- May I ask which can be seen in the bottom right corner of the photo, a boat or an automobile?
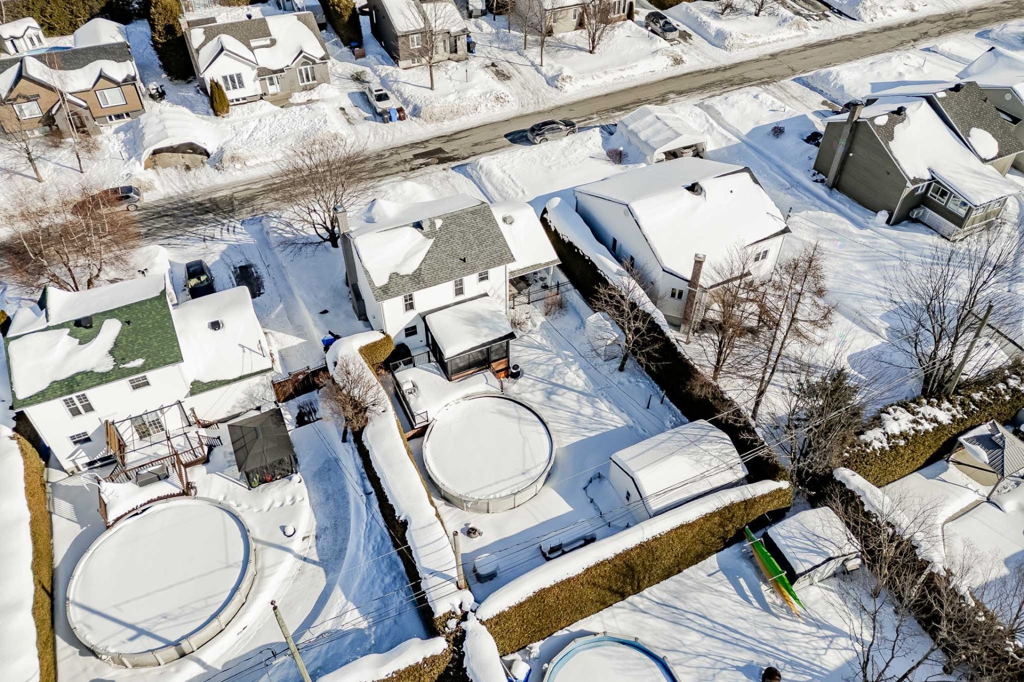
boat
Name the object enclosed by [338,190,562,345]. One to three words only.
house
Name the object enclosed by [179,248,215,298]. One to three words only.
car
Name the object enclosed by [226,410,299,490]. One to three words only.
gazebo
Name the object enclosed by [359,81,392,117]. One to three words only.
car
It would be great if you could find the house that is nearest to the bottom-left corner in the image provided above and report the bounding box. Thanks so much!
[2,270,276,466]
